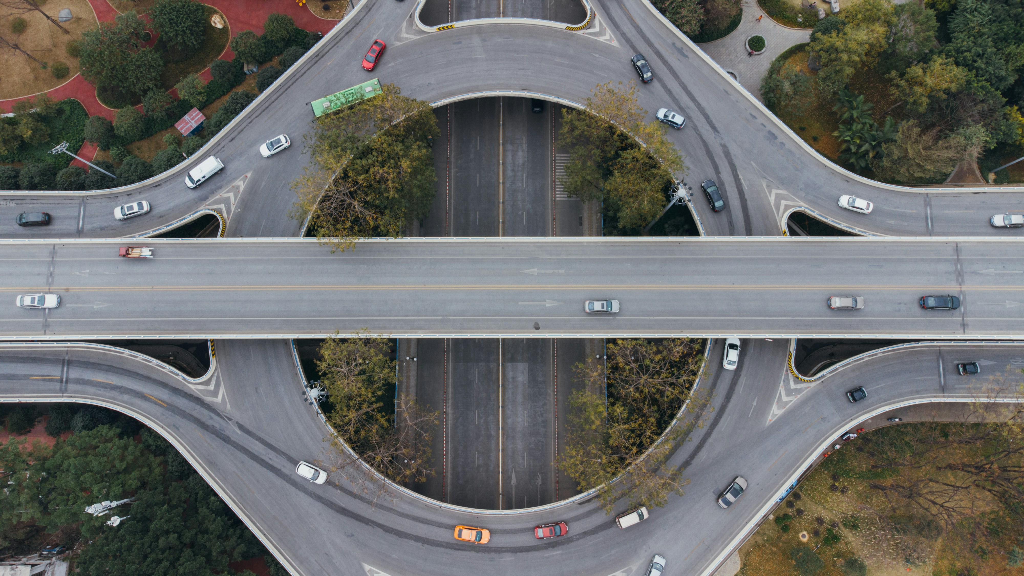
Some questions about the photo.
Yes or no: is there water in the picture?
No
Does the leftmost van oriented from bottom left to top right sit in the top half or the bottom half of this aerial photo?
top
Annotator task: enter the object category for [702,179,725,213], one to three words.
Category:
car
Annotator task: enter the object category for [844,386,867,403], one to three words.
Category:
car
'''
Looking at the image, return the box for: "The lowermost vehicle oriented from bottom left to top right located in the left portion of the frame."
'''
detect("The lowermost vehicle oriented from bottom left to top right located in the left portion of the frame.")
[185,153,224,189]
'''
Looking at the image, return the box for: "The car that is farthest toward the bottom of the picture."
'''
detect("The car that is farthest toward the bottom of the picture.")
[643,548,666,576]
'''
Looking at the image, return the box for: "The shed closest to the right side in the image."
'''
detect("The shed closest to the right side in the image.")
[175,107,210,137]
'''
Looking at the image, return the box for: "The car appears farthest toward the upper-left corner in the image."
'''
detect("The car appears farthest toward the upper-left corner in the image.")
[16,210,53,226]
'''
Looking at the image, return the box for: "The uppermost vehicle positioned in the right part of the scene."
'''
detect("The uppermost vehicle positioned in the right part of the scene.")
[630,52,655,86]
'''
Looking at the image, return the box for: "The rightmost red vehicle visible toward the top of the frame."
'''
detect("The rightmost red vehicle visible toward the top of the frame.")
[361,38,386,72]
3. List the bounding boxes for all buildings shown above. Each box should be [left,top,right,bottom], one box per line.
[175,107,210,137]
[0,543,82,576]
